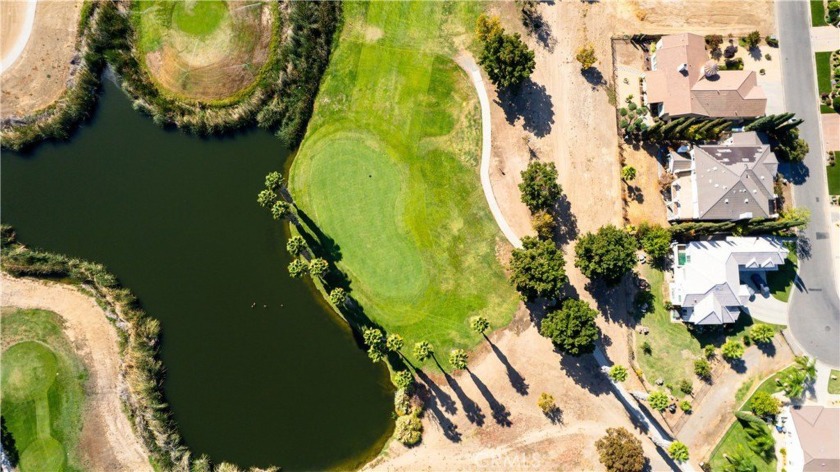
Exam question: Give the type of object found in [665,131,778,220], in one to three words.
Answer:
house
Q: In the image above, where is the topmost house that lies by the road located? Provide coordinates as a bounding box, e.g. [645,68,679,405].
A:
[641,32,767,117]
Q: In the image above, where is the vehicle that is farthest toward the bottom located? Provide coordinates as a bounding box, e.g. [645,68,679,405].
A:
[751,273,771,296]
